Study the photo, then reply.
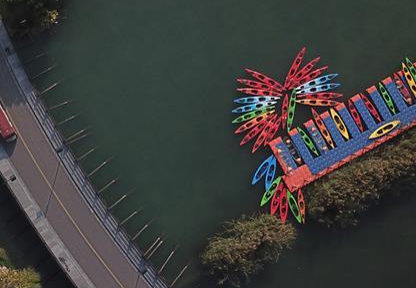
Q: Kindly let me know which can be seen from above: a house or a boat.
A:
boat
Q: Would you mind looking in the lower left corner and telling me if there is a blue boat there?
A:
No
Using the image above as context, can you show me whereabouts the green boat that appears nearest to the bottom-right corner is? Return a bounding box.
[288,190,301,223]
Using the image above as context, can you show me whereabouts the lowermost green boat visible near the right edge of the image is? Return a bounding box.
[380,83,396,115]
